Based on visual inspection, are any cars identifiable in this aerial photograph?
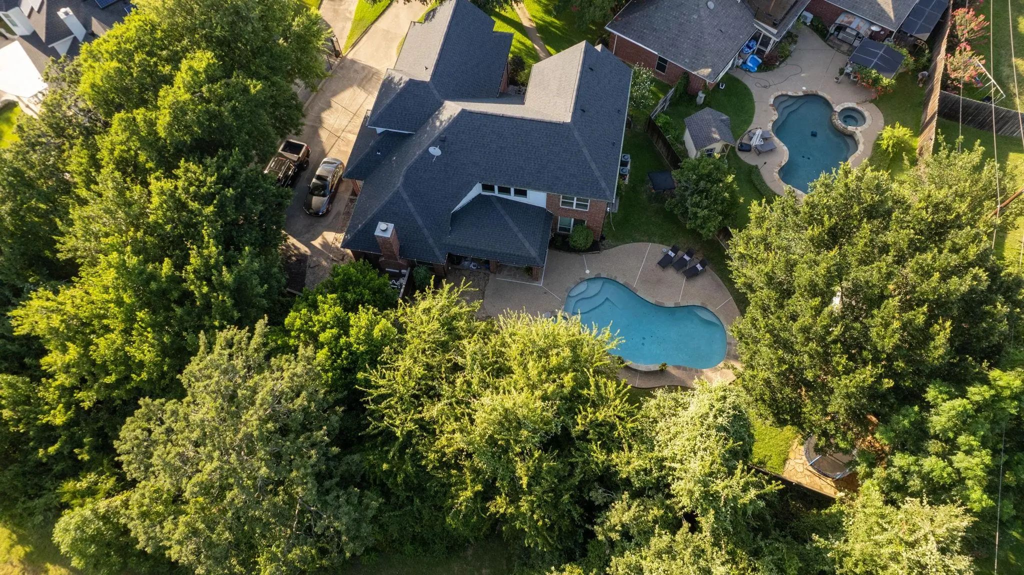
Yes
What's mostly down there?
trees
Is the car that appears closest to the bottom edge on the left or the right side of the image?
left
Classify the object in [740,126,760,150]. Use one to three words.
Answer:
umbrella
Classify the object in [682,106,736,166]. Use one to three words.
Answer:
shed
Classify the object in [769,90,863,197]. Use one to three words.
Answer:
swimming pool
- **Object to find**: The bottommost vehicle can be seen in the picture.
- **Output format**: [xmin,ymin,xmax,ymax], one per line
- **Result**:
[305,163,343,215]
